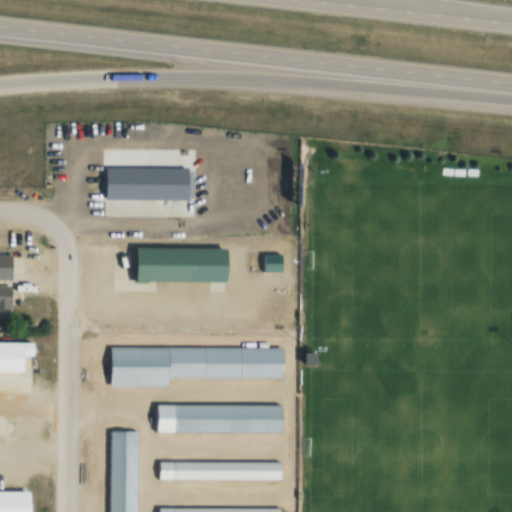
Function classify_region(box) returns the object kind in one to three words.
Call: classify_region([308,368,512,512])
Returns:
soccer field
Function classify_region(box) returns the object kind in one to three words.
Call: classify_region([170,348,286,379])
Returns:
building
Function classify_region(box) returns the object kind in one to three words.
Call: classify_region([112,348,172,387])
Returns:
building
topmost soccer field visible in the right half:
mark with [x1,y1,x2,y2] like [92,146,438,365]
[308,181,512,341]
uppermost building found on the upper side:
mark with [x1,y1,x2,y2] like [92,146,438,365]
[107,168,190,200]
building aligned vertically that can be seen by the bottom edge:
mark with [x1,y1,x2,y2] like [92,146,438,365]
[111,431,140,512]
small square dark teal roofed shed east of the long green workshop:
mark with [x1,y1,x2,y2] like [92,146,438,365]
[264,254,284,272]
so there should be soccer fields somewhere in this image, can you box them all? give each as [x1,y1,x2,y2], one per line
[308,181,512,341]
[308,368,512,512]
